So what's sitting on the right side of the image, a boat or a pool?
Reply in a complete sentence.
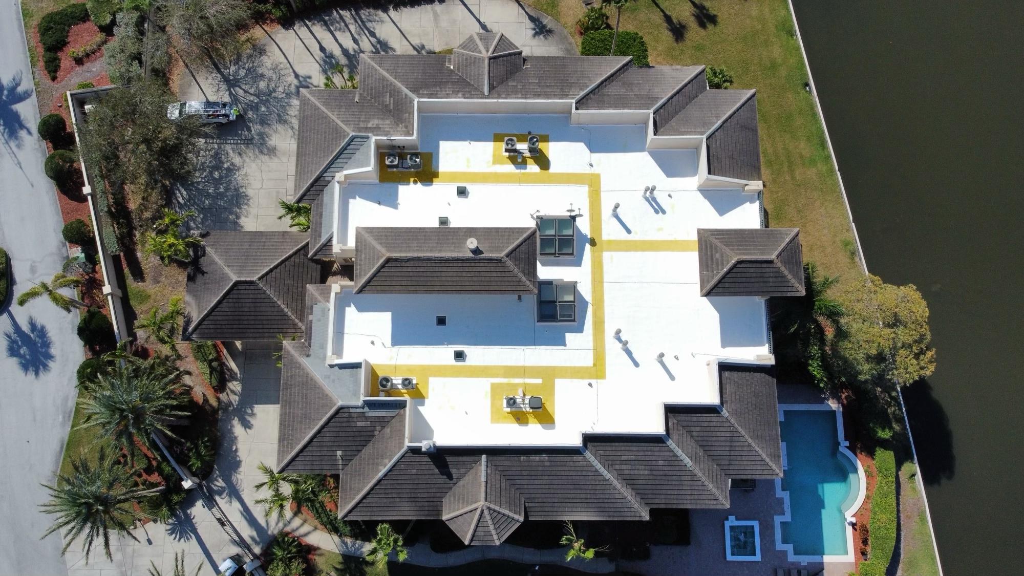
It is a pool that can be seen on the right side of the image.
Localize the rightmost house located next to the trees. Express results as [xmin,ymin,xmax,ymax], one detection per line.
[274,30,806,546]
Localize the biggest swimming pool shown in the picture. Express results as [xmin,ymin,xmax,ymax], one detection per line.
[774,404,867,566]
